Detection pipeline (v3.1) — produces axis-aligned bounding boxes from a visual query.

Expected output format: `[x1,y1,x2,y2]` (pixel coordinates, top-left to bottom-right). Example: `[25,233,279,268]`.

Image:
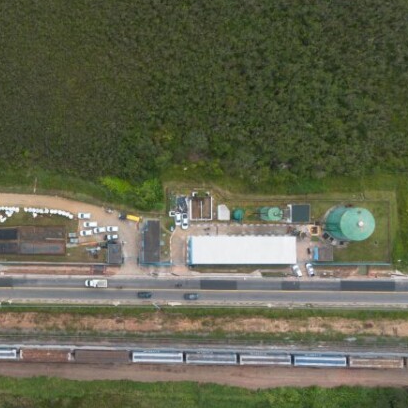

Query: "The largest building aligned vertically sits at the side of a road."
[140,219,160,263]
